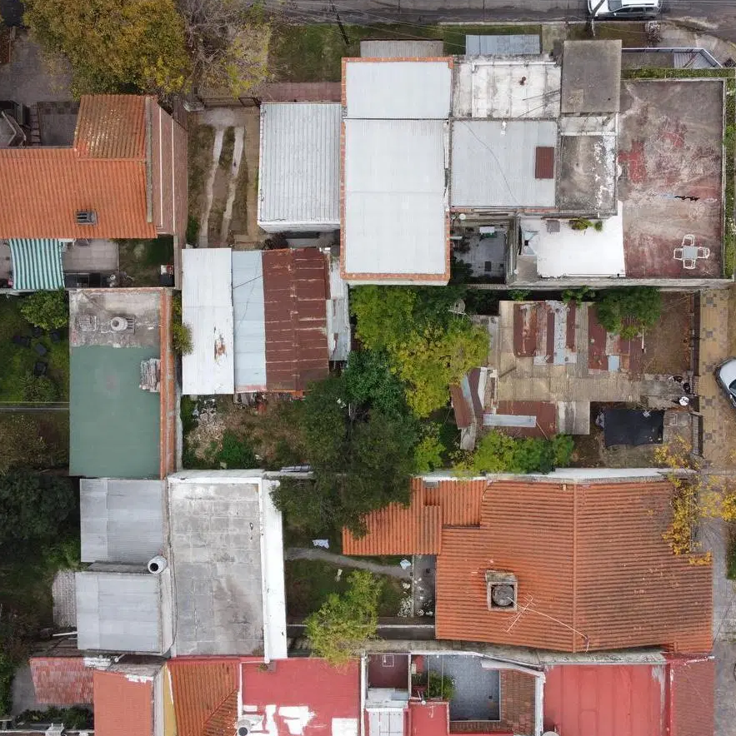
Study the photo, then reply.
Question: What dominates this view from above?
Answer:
buildings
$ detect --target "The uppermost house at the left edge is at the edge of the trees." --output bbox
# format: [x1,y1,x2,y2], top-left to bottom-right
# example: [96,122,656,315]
[0,94,187,252]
